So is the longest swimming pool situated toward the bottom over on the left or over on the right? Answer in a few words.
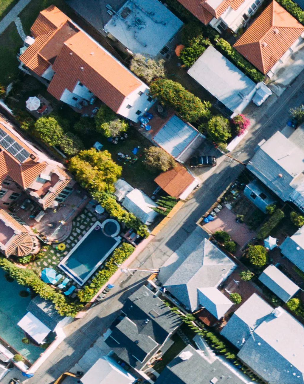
left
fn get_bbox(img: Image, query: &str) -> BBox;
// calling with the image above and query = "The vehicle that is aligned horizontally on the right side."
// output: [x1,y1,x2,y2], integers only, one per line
[179,154,216,169]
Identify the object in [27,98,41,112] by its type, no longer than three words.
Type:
umbrella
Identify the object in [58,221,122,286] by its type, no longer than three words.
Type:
swimming pool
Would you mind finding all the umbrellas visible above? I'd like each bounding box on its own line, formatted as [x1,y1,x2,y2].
[27,98,41,112]
[264,237,277,249]
[41,268,58,284]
